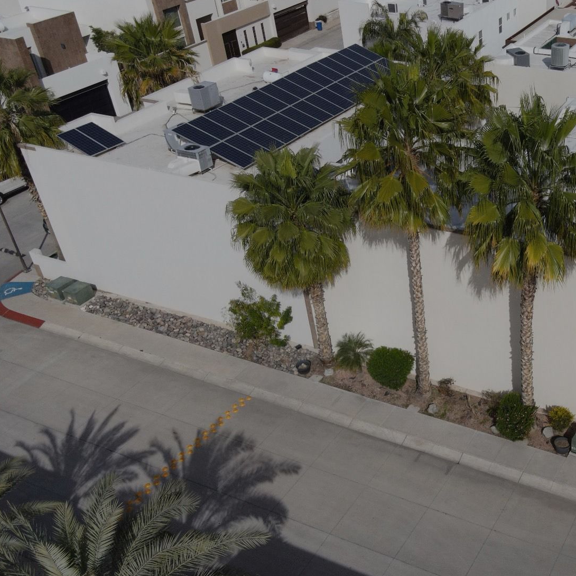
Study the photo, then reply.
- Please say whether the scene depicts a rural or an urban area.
urban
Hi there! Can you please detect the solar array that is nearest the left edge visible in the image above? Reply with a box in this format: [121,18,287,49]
[58,123,125,158]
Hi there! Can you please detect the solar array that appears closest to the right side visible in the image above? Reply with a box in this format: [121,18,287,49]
[174,45,388,167]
